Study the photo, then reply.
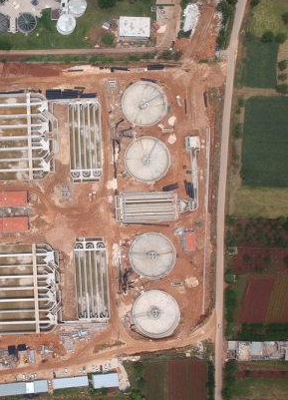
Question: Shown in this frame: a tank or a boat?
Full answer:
This aerial view contains a tank.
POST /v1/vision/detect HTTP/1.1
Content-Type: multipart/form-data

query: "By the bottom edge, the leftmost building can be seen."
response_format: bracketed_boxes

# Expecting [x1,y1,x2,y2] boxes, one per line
[0,379,48,396]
